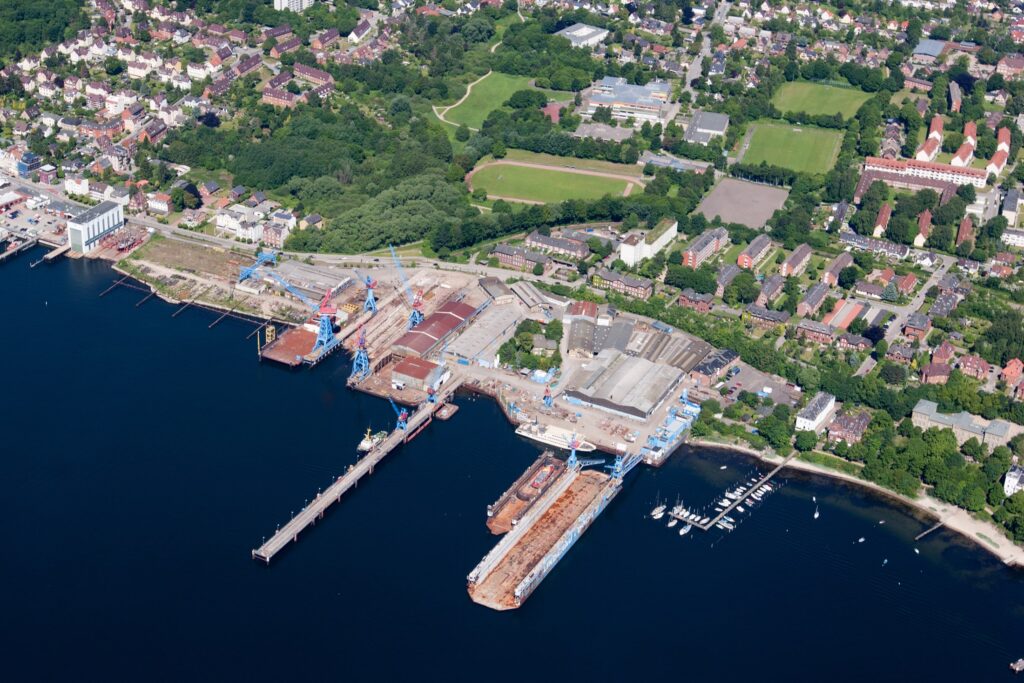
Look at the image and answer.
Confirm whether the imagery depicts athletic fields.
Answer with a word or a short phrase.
Yes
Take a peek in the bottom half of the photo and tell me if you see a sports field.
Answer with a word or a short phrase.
No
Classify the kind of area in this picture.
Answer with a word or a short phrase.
port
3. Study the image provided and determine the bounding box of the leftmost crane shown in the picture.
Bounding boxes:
[266,270,334,356]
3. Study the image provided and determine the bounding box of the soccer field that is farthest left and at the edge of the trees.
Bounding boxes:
[472,164,630,200]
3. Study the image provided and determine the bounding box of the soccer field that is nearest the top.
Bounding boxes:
[771,80,869,119]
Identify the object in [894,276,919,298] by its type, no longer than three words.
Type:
house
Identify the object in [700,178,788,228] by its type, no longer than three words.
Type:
sports field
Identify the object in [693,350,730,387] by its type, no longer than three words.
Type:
building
